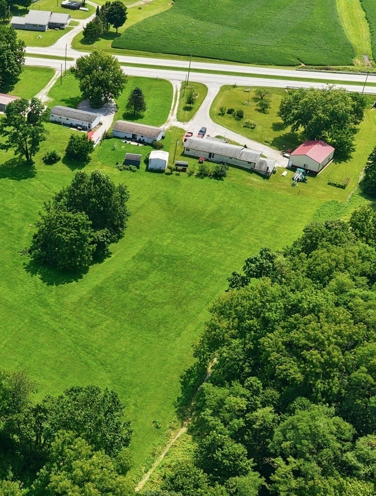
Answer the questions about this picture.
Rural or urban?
rural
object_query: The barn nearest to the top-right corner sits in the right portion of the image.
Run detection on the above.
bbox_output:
[287,137,335,177]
